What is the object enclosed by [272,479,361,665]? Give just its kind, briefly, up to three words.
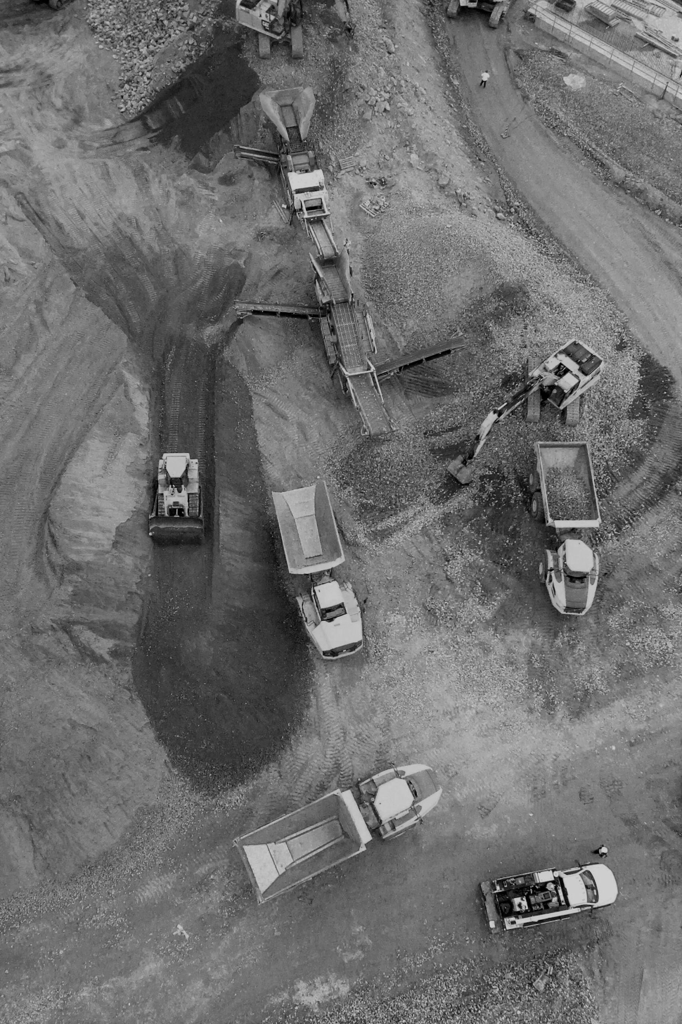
truck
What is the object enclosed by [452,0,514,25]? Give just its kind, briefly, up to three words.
work vehicle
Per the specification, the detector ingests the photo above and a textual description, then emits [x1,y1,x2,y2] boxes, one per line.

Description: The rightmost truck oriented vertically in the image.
[530,438,608,615]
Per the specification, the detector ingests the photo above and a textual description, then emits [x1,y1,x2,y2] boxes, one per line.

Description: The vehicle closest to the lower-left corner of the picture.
[229,761,442,911]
